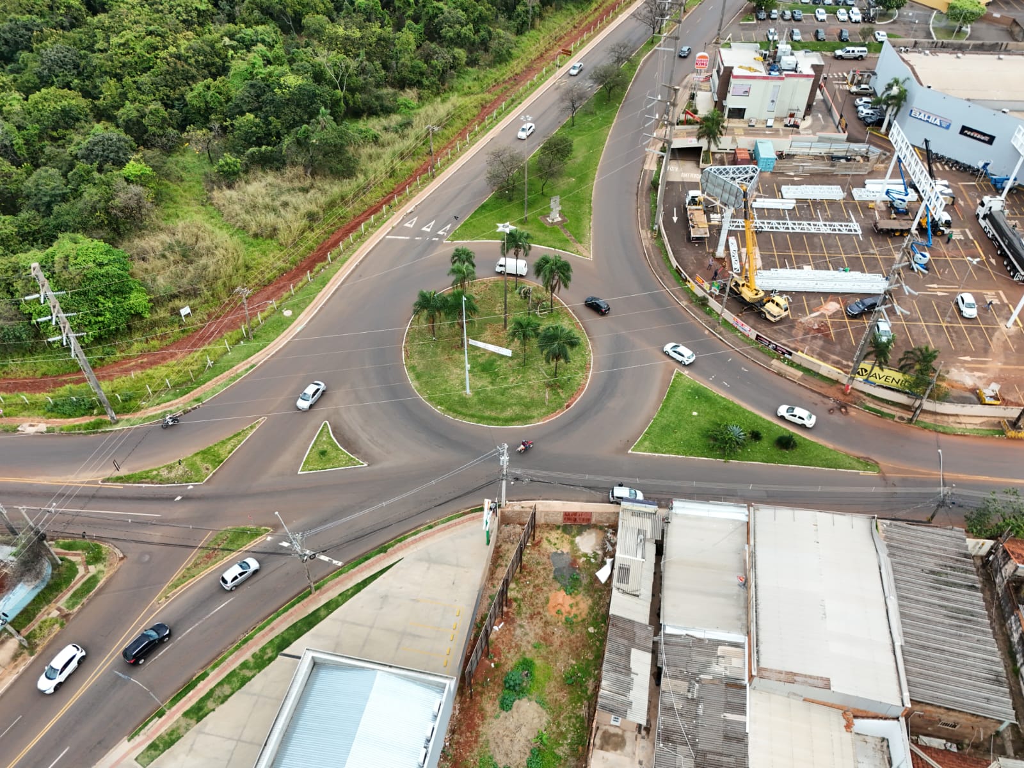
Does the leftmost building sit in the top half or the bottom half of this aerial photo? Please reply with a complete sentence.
The leftmost building is in the bottom half of the image.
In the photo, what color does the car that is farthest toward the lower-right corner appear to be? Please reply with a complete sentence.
The car that is farthest toward the lower-right corner is white.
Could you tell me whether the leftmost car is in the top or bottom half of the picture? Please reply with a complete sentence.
Seen from above, the leftmost car lies in the bottom half of the view.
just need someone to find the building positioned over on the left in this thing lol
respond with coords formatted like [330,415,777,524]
[252,648,457,768]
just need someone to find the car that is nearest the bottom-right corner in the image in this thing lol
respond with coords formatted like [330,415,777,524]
[778,404,819,429]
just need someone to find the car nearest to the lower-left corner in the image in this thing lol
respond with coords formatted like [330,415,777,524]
[32,642,85,693]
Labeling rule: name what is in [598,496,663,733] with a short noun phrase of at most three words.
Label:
house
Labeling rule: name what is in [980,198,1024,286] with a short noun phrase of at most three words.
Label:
truck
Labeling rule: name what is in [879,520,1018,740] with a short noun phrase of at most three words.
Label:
shed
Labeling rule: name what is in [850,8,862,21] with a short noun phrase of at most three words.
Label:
vehicle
